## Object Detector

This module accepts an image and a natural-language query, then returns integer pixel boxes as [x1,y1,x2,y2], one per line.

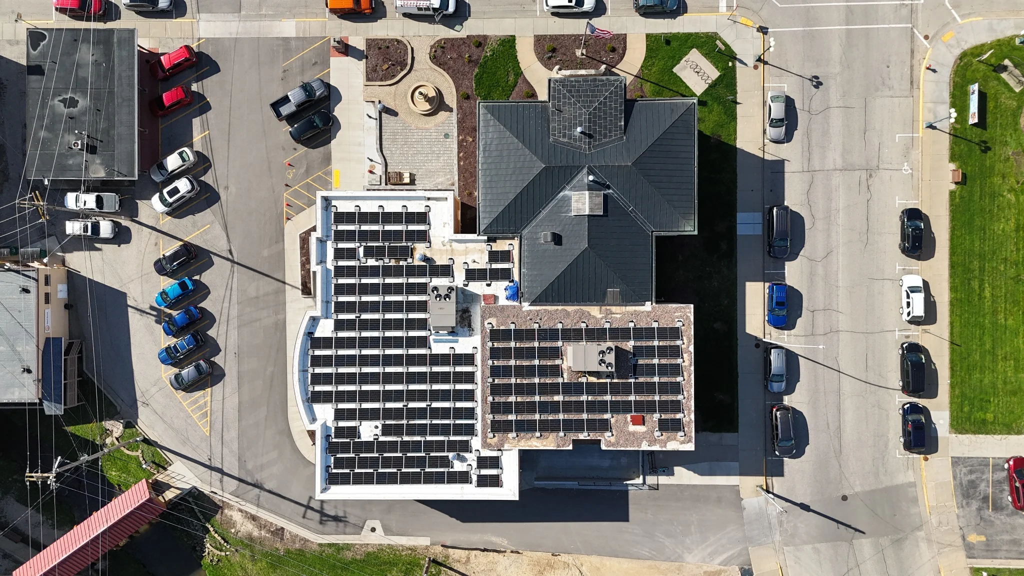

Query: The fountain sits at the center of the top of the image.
[407,81,438,113]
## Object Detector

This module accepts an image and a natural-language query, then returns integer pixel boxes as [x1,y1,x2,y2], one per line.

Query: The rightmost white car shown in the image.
[899,275,927,321]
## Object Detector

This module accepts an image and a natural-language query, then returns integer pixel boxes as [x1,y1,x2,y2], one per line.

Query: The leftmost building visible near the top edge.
[26,28,148,188]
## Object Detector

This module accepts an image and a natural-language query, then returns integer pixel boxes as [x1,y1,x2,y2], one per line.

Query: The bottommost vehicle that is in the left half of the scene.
[168,357,217,392]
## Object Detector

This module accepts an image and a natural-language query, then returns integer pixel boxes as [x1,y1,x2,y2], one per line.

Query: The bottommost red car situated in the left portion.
[150,83,197,120]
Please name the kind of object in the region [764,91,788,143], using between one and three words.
car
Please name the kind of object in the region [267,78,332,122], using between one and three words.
truck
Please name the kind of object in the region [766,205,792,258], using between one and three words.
car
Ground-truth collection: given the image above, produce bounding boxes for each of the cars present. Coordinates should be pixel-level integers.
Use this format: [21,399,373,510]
[764,345,788,393]
[545,0,595,14]
[153,241,202,277]
[899,275,927,321]
[151,146,202,184]
[769,404,796,456]
[898,343,926,396]
[898,402,926,452]
[151,44,201,82]
[168,357,217,392]
[898,209,925,256]
[154,275,200,309]
[52,0,109,18]
[764,91,788,143]
[633,0,678,15]
[766,205,792,258]
[286,109,336,143]
[162,304,208,338]
[121,0,176,13]
[322,0,375,17]
[158,330,208,366]
[765,282,790,329]
[64,217,120,239]
[150,83,197,120]
[152,175,203,213]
